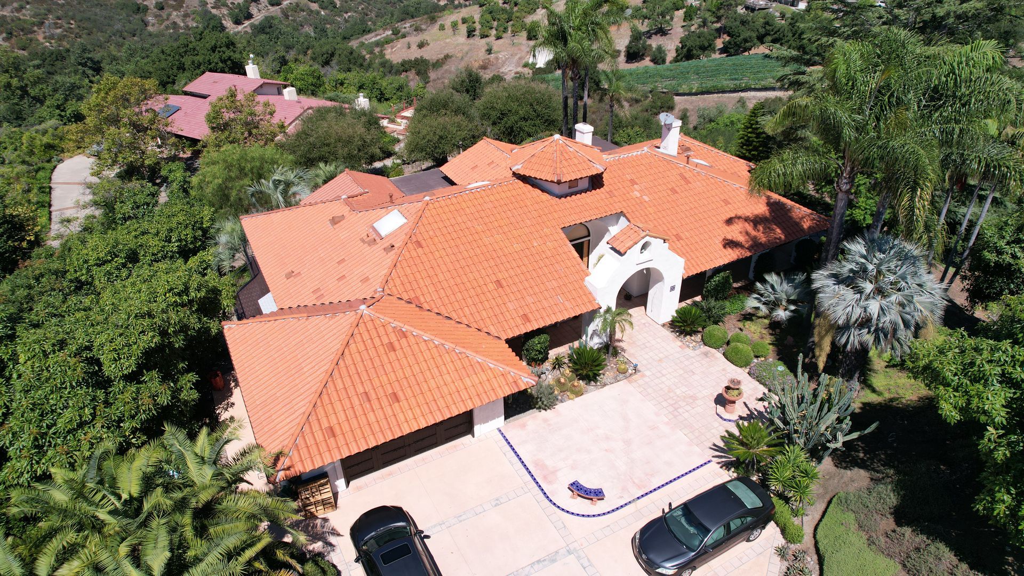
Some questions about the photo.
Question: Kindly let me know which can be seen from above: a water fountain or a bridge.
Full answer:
It is a water fountain that can be seen here.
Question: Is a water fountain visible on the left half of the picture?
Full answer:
No, no water fountain can be made out on the left half of the picture.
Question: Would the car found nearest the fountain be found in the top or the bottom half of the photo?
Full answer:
It is in the bottom half that the car found nearest the fountain appears.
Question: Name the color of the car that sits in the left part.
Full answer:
The car that sits in the left part looks black in the image.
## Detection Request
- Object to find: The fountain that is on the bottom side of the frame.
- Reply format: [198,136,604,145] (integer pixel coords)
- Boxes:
[715,378,746,423]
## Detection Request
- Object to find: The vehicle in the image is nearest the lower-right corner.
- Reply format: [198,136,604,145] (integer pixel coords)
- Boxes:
[633,478,774,576]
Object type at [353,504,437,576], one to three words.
car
